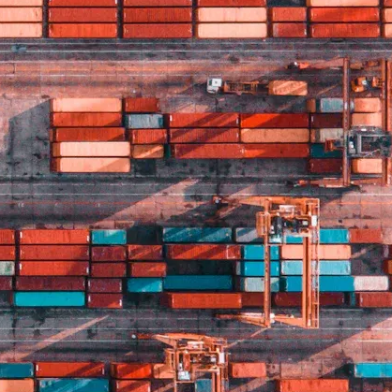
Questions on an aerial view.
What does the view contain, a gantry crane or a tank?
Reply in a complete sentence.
The one in the frame is a gantry crane.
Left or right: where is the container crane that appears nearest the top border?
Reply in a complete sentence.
You can find the container crane that appears nearest the top border on the right side of the picture.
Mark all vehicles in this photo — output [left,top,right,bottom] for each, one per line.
[206,77,267,96]
[349,76,379,93]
